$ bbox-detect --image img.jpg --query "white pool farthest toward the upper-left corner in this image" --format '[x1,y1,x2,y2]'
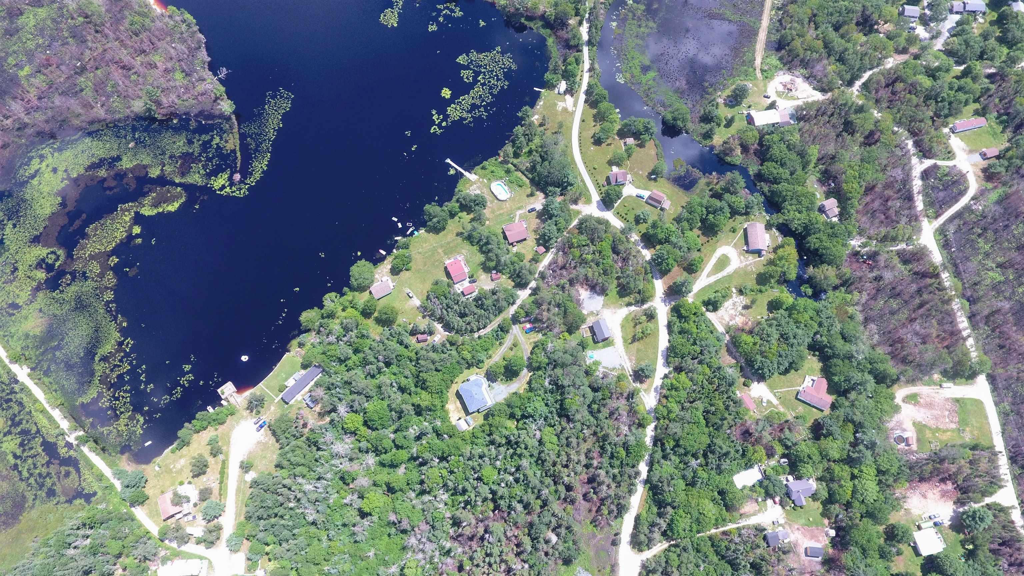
[491,179,511,199]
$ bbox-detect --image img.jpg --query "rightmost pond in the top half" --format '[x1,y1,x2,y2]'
[597,0,815,304]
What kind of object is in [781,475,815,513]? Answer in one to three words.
house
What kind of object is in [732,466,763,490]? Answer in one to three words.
building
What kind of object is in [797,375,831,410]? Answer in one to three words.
house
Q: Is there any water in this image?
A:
Yes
